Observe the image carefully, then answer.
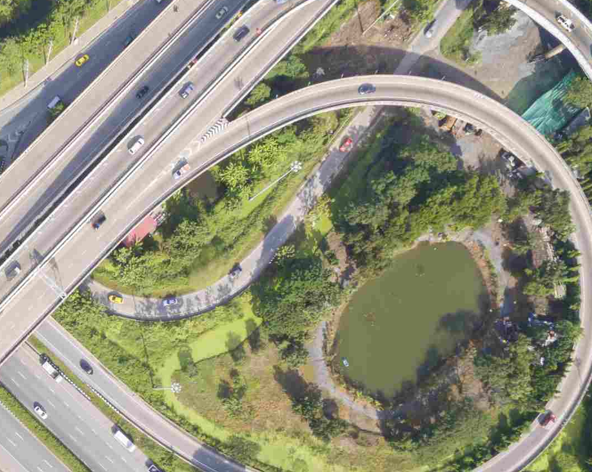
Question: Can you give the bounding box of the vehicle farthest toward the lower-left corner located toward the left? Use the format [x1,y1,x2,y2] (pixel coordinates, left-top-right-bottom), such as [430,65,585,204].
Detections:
[31,403,48,419]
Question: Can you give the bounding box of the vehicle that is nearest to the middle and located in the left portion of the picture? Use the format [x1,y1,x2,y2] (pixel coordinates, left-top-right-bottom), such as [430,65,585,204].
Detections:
[225,264,245,282]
